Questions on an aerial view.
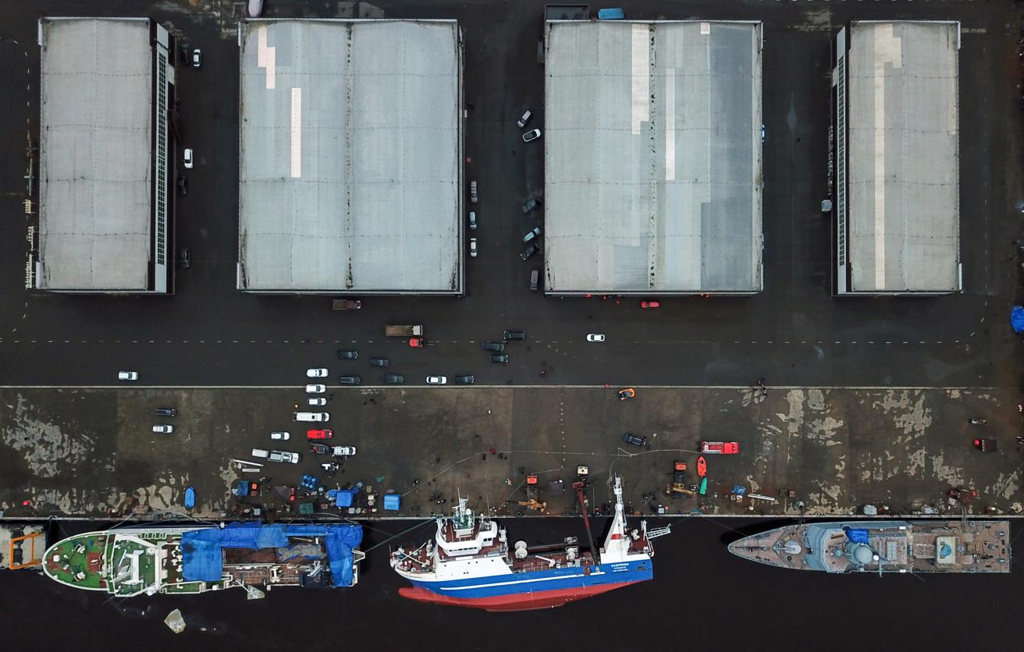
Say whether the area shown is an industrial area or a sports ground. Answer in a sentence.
The picture captures an industrial area.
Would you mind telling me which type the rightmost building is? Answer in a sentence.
It turns out the rightmost building is a warehouse.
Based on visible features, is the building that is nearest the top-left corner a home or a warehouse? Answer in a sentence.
The building that is nearest the top-left corner can be classified as a warehouse.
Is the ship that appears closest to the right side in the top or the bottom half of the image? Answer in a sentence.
The ship that appears closest to the right side is in the bottom half of the image.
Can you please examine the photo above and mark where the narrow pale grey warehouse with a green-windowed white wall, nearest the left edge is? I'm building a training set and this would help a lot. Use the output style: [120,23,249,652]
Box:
[32,16,177,295]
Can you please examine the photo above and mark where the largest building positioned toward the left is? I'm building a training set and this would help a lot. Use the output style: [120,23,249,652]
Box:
[234,17,466,297]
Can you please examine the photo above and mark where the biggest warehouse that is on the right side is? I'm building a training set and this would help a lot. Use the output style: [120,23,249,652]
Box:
[541,19,766,297]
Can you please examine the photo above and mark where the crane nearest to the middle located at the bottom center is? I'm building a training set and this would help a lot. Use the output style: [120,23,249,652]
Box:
[489,473,544,511]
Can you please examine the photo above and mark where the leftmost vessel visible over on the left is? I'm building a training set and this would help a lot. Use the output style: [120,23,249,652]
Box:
[0,524,48,570]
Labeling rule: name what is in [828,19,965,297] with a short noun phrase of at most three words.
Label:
warehouse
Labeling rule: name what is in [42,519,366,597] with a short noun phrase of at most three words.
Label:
vessel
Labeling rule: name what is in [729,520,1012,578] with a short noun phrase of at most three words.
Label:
ship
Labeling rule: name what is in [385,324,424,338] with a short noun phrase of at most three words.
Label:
vehicle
